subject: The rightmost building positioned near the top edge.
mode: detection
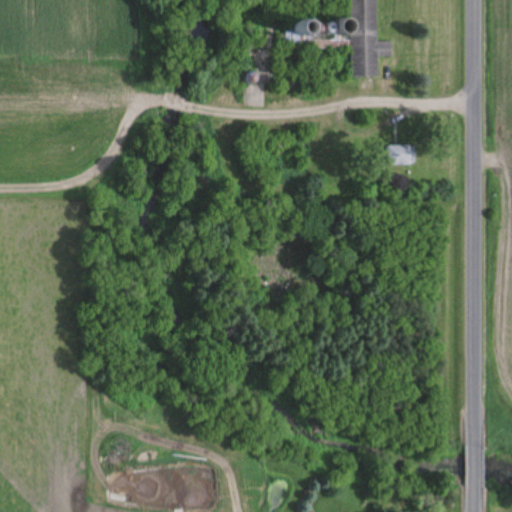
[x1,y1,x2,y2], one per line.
[352,0,394,76]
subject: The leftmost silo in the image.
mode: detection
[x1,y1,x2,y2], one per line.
[296,20,324,36]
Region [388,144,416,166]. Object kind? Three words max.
house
